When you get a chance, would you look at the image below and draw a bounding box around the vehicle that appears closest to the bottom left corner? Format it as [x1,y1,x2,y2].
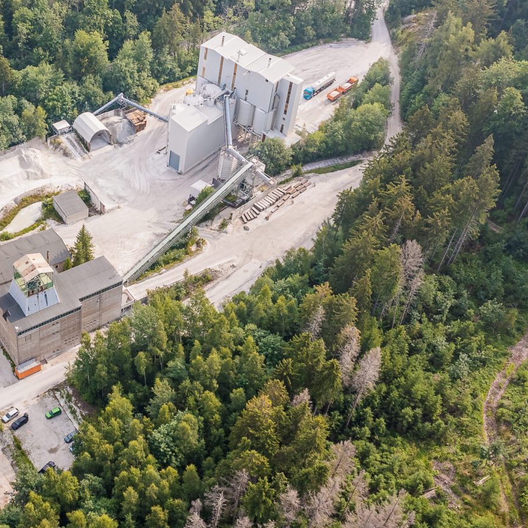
[37,458,57,474]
